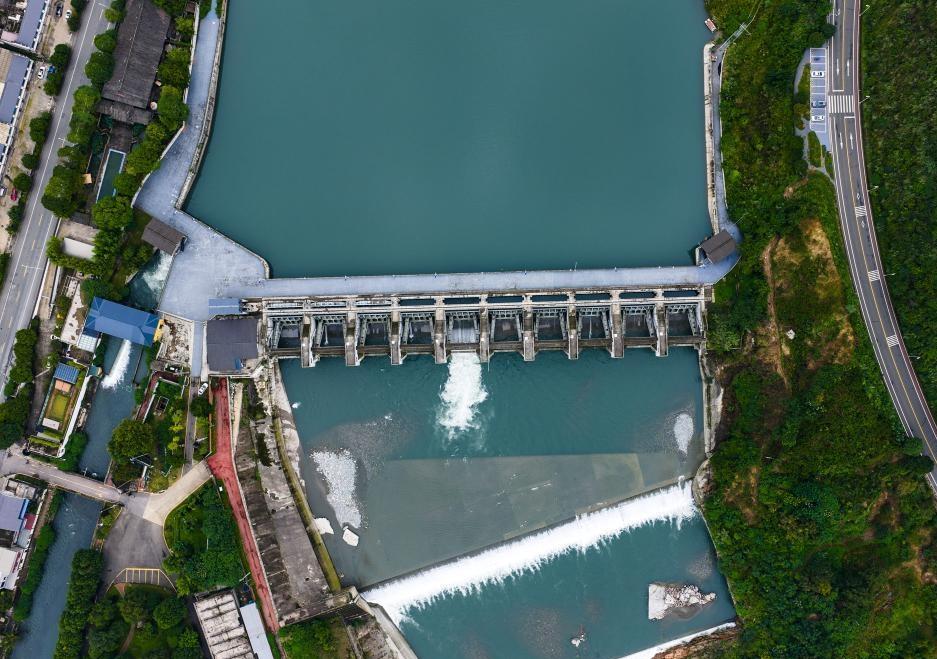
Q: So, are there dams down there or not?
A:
Yes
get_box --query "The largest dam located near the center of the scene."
[247,267,721,367]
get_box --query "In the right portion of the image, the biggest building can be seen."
[698,230,736,263]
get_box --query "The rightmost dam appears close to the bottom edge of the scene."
[620,624,734,659]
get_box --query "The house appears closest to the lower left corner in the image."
[0,546,29,590]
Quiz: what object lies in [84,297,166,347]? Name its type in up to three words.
building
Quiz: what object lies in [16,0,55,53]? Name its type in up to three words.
house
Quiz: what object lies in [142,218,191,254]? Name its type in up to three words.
building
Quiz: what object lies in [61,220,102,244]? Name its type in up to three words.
house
